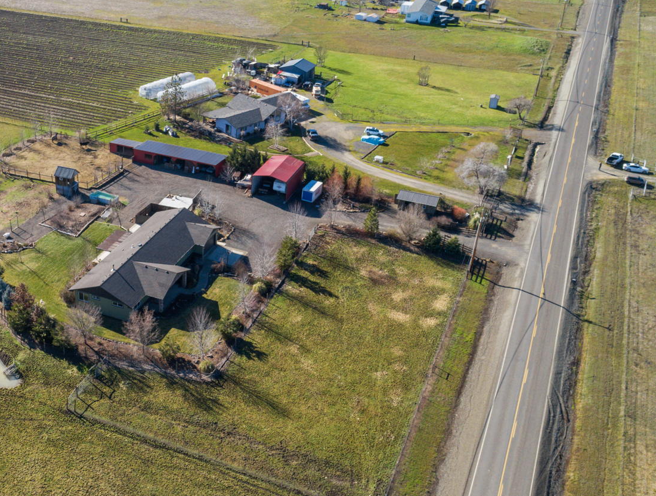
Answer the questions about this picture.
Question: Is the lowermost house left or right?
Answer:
left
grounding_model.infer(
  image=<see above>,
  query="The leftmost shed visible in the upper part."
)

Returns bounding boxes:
[51,166,82,200]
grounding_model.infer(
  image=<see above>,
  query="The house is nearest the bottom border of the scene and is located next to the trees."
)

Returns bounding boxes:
[68,206,222,321]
